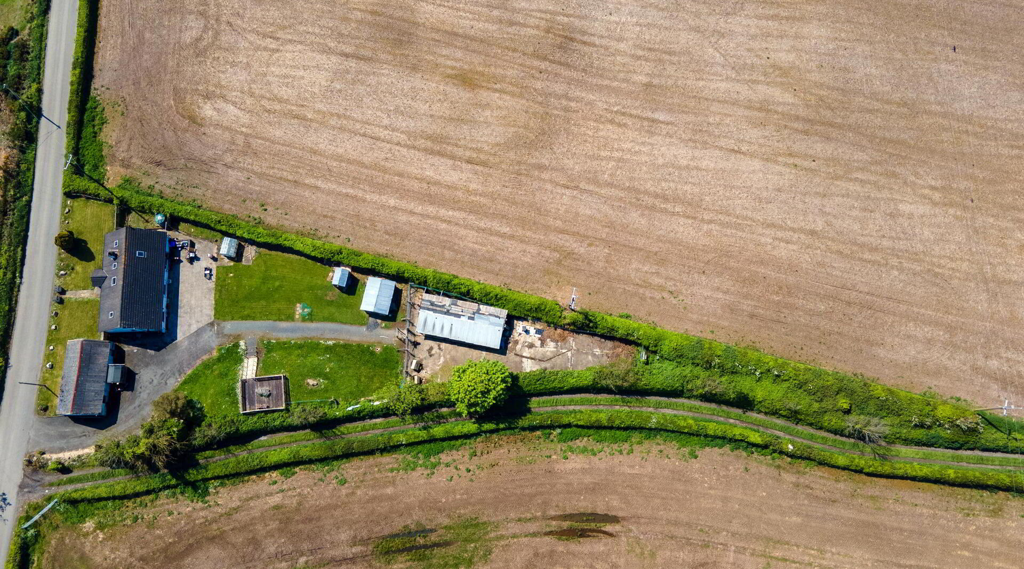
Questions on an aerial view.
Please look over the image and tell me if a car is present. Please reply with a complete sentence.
No, this view has no car in it.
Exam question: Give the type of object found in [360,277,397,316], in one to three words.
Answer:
shed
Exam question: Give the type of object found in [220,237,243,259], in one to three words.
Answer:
greenhouse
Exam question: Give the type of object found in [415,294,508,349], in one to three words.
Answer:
shed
